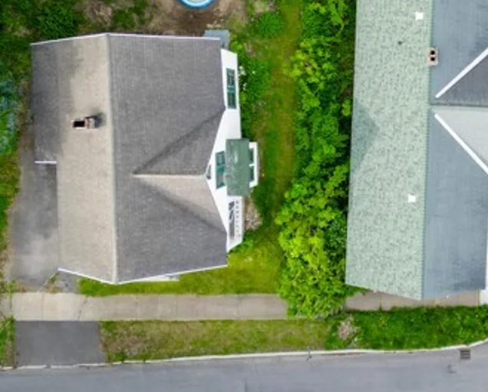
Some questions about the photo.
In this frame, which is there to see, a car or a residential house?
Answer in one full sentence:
It is a residential house that can be seen here.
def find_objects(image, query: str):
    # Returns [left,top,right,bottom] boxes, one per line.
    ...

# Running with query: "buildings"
[345,0,488,299]
[30,29,257,284]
